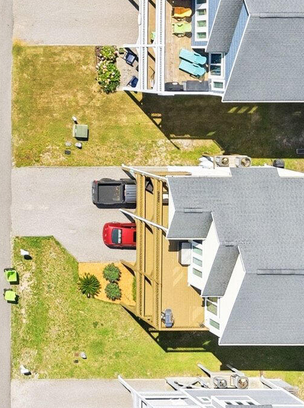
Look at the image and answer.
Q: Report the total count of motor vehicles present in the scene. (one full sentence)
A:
The count of motor vehicles comes to 2.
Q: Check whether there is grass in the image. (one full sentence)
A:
Yes, the picture does contain grass.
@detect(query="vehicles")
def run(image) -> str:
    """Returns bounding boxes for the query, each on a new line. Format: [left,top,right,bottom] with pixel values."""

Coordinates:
[87,175,134,207]
[95,219,134,247]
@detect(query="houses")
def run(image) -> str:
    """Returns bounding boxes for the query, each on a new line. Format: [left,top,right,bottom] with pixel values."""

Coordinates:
[116,372,304,408]
[122,0,304,103]
[119,158,304,347]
